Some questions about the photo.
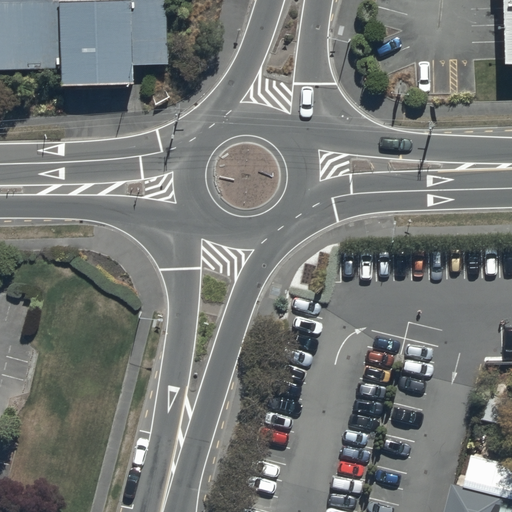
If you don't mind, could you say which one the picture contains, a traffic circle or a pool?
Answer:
traffic circle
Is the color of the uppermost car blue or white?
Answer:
blue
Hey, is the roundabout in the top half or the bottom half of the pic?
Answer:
top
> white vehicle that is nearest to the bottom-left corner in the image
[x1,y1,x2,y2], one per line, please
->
[133,436,150,468]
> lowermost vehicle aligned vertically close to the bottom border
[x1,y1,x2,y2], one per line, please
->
[124,469,142,502]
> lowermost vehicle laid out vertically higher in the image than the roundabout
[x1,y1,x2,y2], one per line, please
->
[300,86,314,118]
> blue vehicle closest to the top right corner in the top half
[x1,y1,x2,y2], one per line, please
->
[376,37,402,58]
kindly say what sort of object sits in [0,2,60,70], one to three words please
building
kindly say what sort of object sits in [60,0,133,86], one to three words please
building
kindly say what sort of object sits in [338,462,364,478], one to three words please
car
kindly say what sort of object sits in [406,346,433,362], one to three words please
car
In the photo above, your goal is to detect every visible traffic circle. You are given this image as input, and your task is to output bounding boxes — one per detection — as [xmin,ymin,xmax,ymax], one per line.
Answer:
[187,116,307,236]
